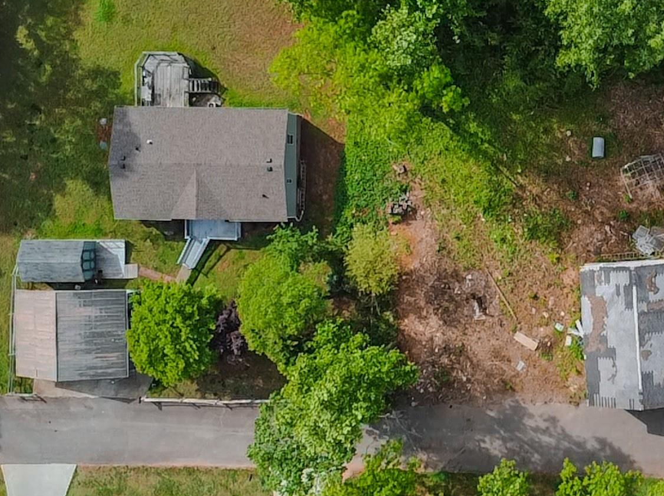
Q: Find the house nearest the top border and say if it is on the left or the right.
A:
left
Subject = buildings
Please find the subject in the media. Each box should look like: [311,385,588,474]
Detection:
[12,241,104,282]
[106,106,301,222]
[14,289,147,385]
[579,261,664,416]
